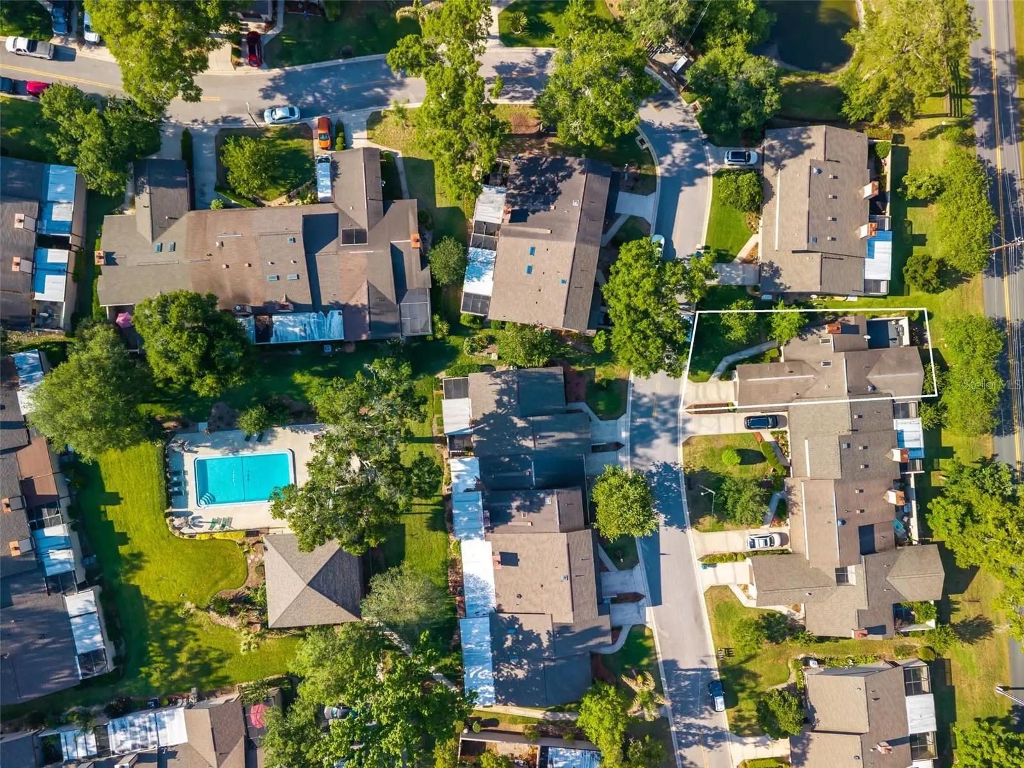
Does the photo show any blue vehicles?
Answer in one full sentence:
Yes, a blue vehicle can be made out from above.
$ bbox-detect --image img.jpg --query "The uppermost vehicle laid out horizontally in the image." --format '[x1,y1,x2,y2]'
[6,36,54,61]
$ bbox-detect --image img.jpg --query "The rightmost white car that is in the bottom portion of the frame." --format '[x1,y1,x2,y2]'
[746,533,781,551]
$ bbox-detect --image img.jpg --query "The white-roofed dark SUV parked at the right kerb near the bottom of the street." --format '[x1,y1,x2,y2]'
[707,677,727,713]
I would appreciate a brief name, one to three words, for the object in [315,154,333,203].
vehicle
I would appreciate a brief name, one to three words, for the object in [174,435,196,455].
umbrella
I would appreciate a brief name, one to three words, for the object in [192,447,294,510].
swimming pool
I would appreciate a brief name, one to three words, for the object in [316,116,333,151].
car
